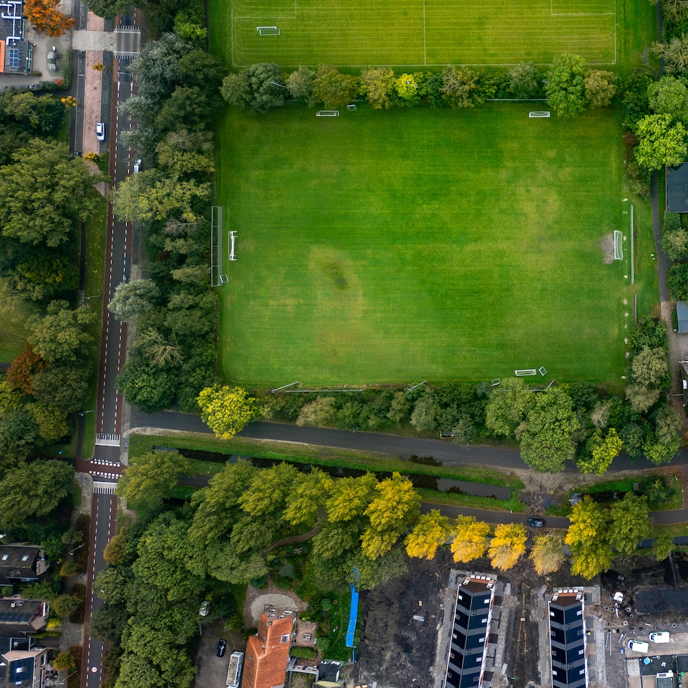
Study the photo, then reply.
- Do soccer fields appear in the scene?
Yes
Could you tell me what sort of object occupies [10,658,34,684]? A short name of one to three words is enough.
solar panel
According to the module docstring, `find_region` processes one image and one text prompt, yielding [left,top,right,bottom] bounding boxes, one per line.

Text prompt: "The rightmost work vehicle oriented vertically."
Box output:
[611,592,624,618]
